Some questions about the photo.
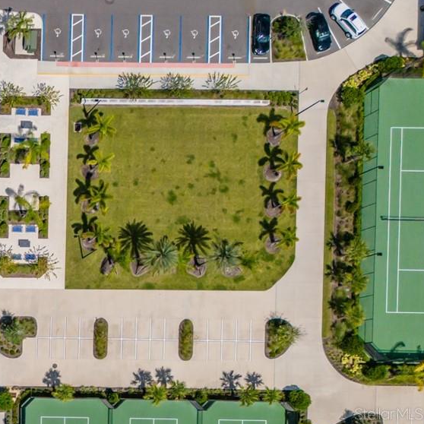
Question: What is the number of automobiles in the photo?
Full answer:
The picture shows 3 automobiles.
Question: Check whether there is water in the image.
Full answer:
No, there is no water in the image.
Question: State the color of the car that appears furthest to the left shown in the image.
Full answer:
The car that appears furthest to the left is black.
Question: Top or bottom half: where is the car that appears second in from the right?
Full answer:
The top half of the photo is where the car that appears second in from the right is.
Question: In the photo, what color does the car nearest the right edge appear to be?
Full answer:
The color of the car nearest the right edge is white.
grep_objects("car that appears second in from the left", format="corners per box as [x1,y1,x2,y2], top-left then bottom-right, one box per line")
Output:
[309,11,335,50]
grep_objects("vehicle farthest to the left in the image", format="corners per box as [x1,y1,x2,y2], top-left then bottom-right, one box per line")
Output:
[254,12,276,53]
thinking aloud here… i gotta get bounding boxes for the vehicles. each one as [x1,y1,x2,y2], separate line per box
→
[309,11,335,50]
[334,4,367,40]
[254,12,276,53]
